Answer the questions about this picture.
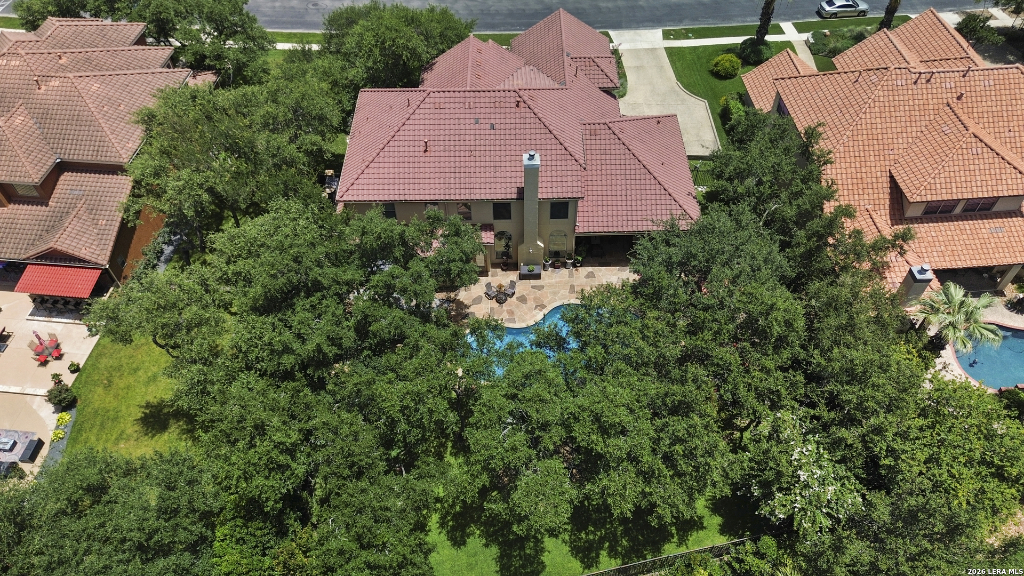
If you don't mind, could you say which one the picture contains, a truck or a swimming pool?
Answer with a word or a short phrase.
swimming pool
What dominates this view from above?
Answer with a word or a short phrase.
trees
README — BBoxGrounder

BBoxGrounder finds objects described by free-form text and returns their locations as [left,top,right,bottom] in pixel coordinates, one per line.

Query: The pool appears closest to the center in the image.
[460,298,655,386]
